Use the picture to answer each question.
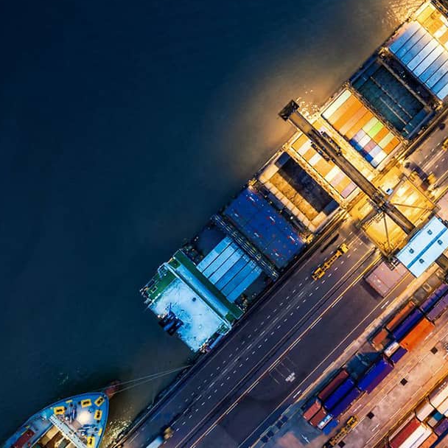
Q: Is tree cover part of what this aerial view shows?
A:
No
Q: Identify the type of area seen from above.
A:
port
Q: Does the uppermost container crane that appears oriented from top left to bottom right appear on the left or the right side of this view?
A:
right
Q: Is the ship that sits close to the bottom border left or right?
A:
left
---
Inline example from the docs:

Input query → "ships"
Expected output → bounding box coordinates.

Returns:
[4,372,129,448]
[142,0,448,352]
